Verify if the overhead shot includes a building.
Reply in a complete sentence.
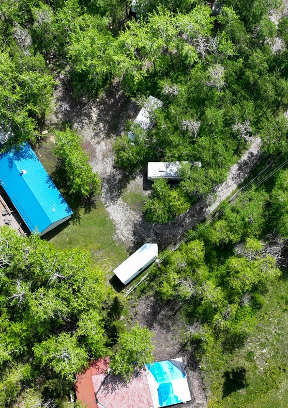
Yes, the image includes a building.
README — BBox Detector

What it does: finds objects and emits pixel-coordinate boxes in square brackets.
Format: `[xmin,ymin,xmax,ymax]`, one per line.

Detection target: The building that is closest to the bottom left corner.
[76,356,154,408]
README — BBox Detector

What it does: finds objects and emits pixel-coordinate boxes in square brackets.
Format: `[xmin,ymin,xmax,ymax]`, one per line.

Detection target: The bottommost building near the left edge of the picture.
[0,143,72,235]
